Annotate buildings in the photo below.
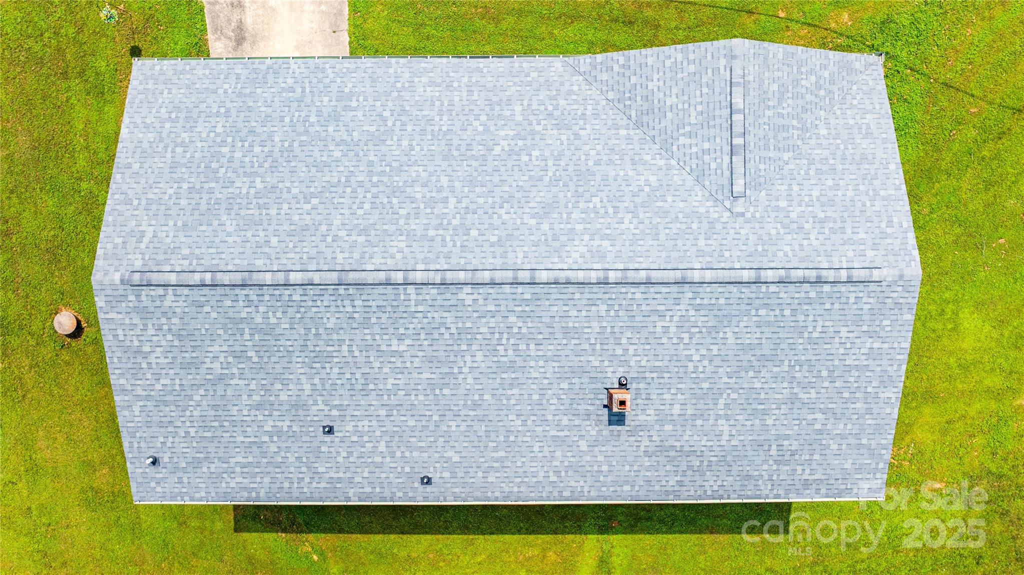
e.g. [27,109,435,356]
[92,37,923,505]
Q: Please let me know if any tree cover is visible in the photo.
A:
No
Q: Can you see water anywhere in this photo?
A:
No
